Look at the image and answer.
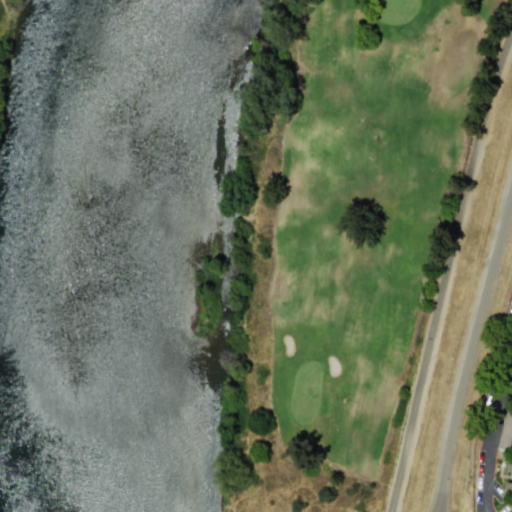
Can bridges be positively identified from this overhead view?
No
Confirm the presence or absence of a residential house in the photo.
No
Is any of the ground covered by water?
Yes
